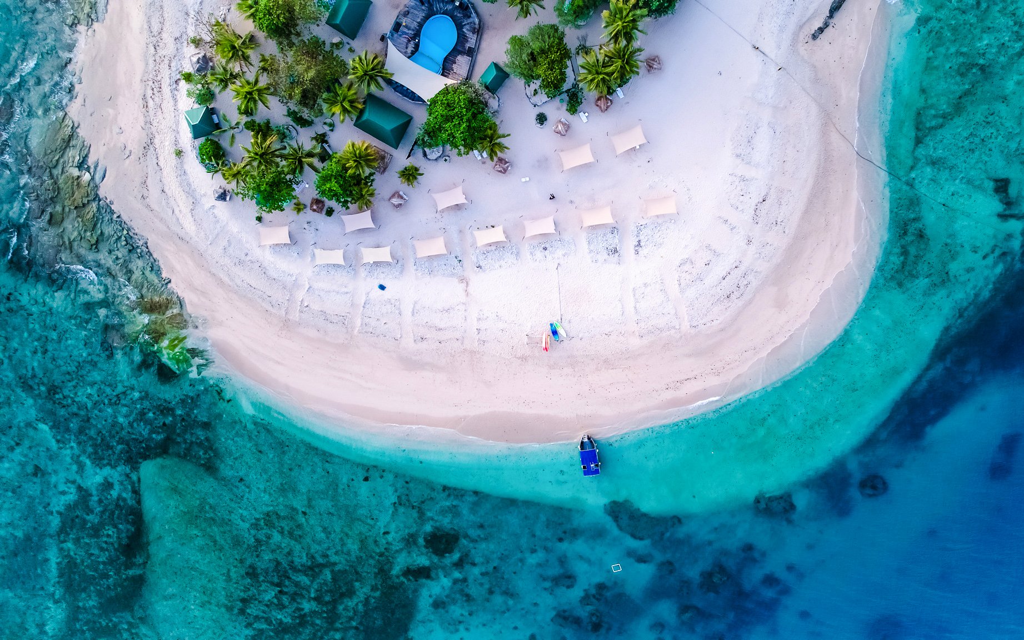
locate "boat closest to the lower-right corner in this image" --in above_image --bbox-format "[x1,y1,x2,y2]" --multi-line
[578,431,601,477]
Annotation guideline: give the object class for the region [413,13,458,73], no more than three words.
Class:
swimming pool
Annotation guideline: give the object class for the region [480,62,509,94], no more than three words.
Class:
shed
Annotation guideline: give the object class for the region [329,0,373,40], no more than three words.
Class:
shed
